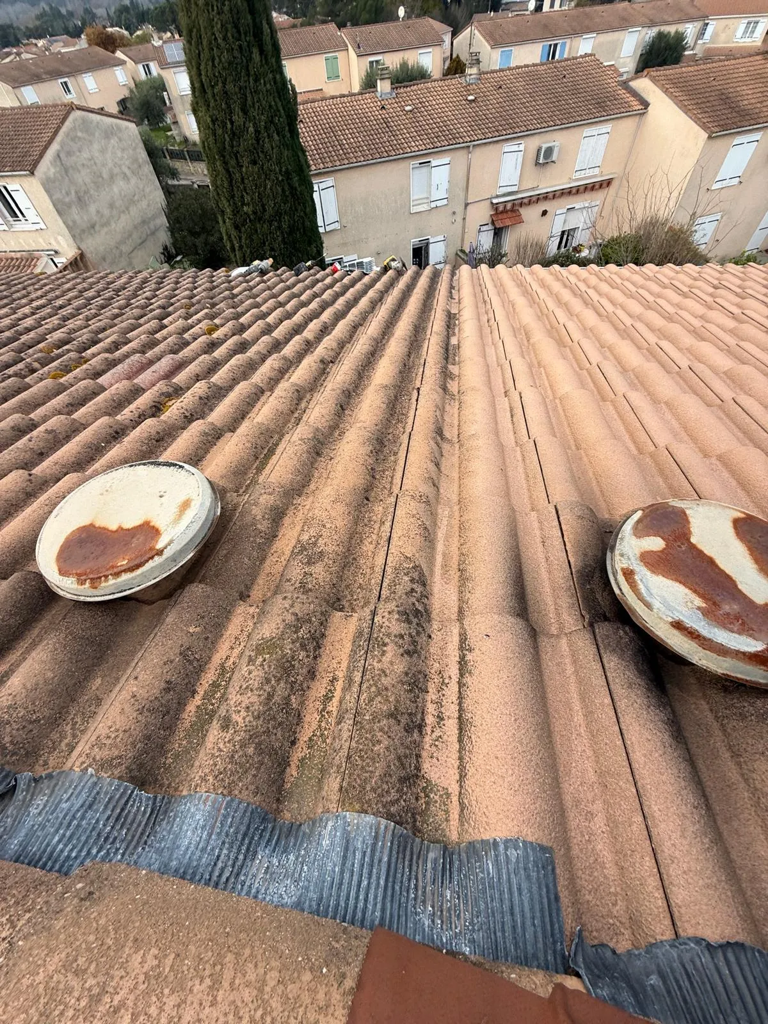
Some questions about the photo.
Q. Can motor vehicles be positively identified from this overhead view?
No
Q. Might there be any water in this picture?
No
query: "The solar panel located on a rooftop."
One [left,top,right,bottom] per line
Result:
[149,38,182,58]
